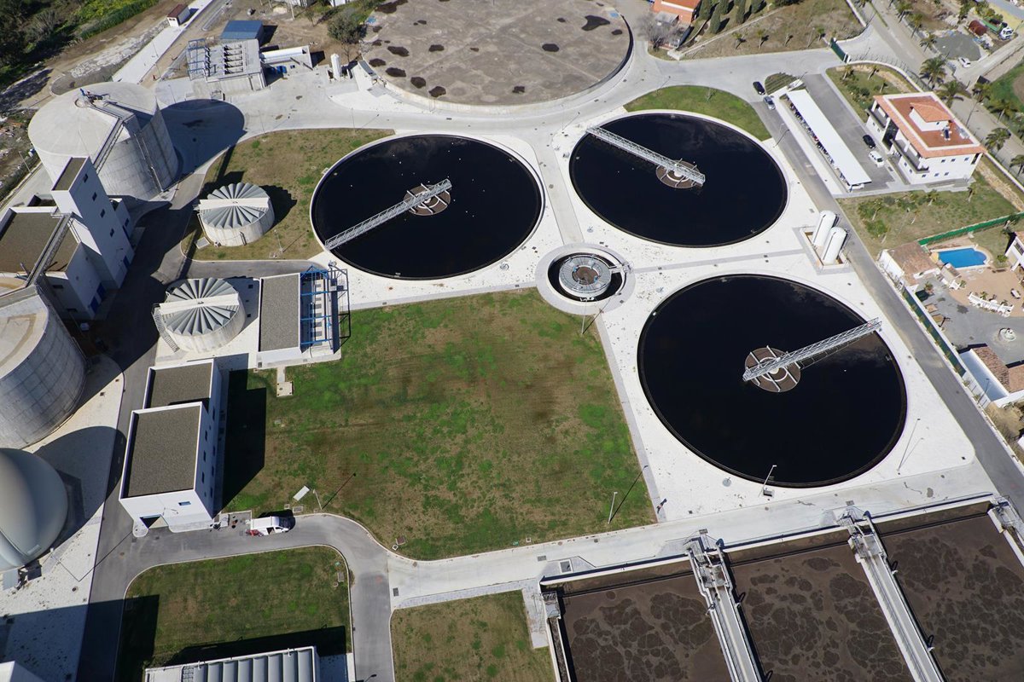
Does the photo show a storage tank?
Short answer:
Yes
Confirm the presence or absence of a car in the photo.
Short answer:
Yes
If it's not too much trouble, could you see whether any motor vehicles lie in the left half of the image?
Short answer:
Yes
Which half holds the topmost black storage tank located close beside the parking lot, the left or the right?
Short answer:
right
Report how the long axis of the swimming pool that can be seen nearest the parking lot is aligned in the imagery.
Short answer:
from left to right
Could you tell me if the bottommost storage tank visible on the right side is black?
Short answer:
Yes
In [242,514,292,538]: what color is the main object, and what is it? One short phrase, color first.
white vehicle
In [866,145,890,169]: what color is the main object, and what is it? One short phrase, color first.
white vehicle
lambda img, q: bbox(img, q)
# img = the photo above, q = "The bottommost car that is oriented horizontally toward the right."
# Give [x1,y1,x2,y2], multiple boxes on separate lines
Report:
[846,182,875,197]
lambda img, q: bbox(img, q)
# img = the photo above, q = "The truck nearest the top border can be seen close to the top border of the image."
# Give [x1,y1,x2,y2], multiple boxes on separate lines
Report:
[979,13,1017,34]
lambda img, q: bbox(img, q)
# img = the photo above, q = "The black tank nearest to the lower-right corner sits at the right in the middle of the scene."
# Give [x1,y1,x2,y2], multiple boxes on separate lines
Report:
[631,272,913,492]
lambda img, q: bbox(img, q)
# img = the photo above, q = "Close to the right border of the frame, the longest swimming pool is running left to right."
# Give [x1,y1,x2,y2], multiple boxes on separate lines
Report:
[932,246,989,269]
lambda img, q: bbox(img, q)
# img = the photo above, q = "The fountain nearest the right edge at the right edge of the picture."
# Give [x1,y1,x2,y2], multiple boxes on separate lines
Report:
[999,326,1018,340]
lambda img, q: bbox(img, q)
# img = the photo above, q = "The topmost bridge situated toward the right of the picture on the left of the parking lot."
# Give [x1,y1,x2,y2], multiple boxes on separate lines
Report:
[584,124,707,184]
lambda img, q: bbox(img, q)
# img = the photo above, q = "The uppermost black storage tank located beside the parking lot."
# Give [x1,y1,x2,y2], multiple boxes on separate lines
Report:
[567,110,790,252]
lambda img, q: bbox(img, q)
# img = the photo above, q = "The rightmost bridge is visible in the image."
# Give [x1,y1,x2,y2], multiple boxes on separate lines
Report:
[740,315,885,381]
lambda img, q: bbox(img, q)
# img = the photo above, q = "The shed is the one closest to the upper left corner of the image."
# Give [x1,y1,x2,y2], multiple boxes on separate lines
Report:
[165,1,191,26]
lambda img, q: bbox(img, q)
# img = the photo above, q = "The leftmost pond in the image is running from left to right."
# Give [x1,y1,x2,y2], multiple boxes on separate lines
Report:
[347,0,636,118]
